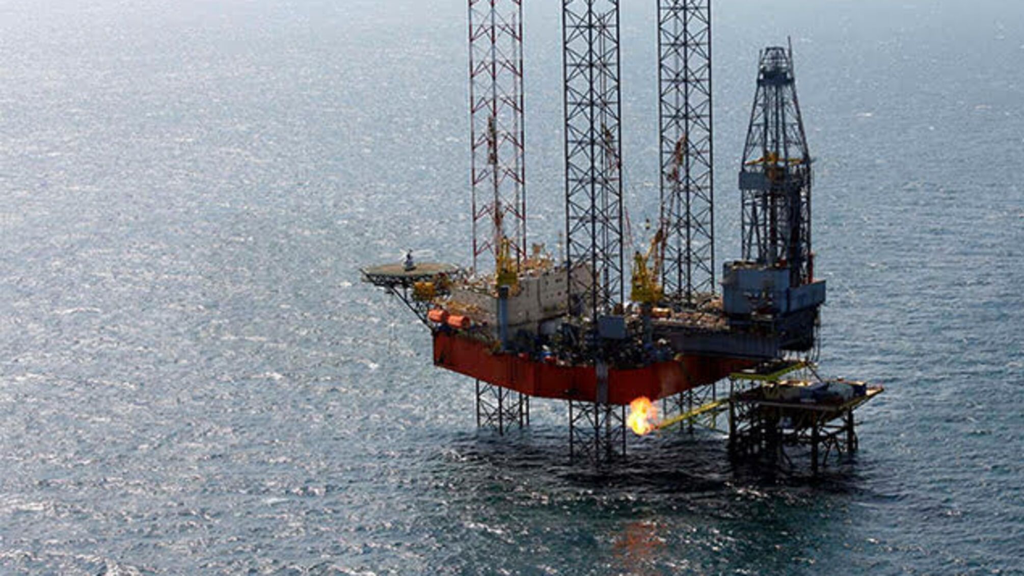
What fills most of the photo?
water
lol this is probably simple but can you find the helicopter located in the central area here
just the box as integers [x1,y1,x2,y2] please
[387,246,433,270]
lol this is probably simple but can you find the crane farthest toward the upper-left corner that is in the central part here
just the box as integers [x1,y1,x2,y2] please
[488,113,515,345]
